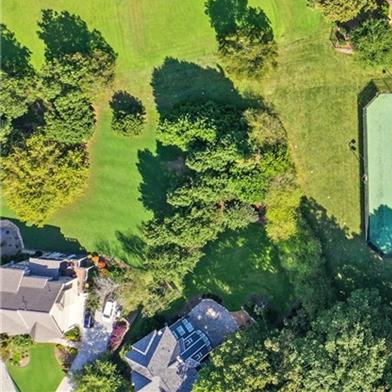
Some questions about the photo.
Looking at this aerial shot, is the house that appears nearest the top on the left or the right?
left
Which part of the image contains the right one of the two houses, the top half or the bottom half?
bottom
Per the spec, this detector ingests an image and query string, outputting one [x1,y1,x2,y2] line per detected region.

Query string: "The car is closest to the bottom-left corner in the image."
[82,306,95,329]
